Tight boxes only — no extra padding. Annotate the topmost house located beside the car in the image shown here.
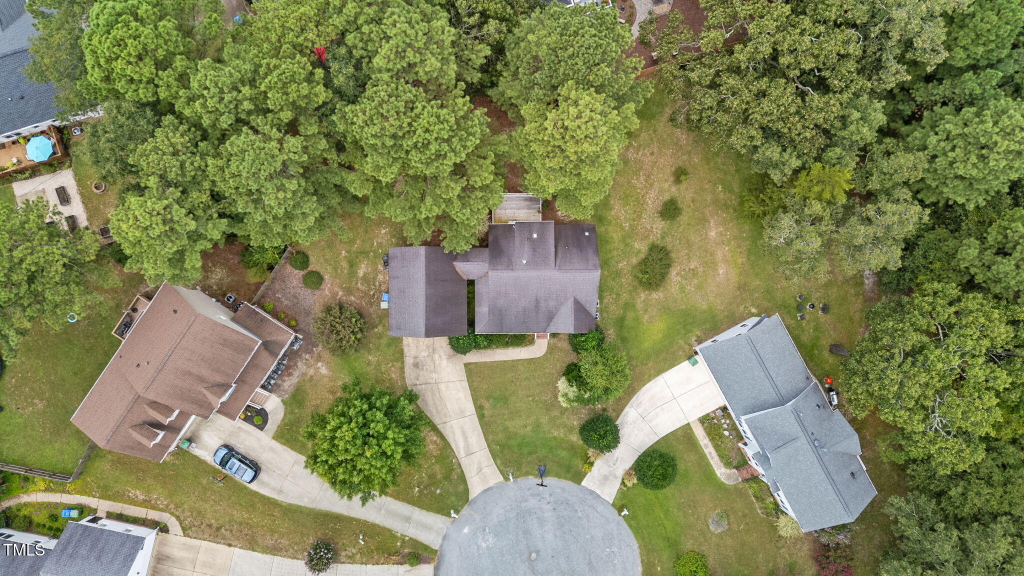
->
[75,283,297,463]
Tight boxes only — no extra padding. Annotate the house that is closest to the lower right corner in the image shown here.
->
[695,311,878,532]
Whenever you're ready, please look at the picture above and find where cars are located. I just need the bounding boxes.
[210,443,265,488]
